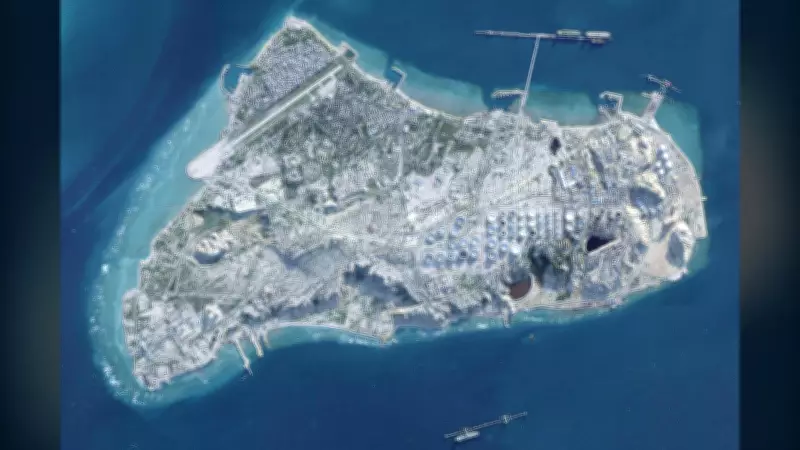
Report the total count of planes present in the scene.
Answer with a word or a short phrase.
0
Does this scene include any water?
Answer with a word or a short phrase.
Yes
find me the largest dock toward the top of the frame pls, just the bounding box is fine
[474,30,611,115]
